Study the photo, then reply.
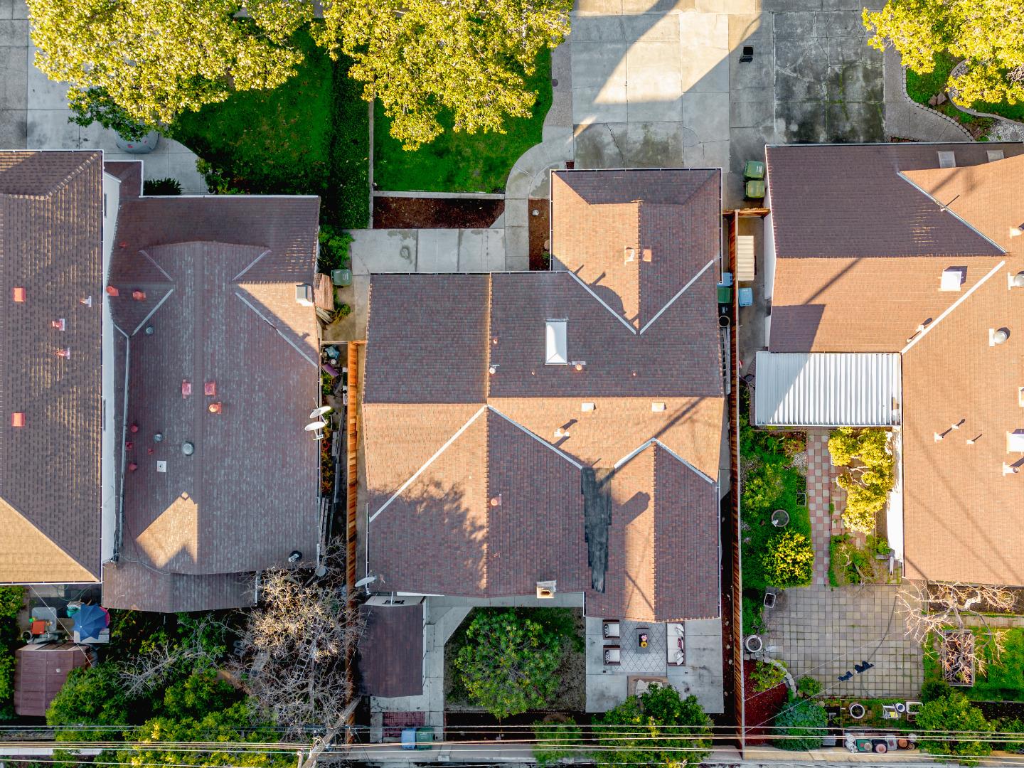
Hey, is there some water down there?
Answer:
No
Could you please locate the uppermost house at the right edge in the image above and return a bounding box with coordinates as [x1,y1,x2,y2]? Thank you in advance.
[744,140,1024,587]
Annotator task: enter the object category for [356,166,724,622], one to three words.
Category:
house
